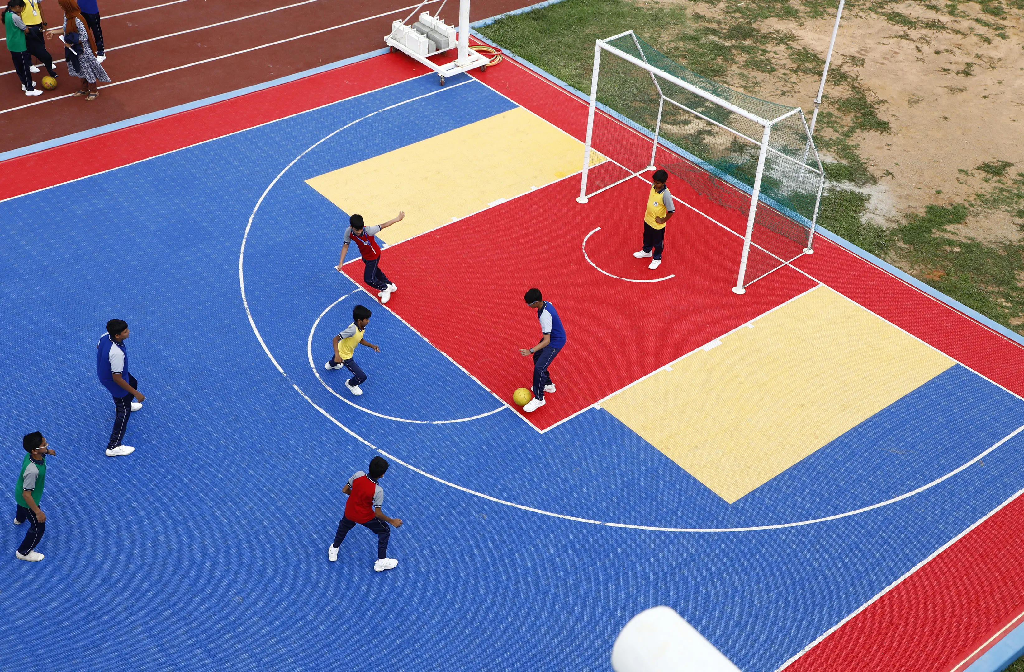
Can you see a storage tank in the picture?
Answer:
No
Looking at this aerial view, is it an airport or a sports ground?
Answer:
sports ground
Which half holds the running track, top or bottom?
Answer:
top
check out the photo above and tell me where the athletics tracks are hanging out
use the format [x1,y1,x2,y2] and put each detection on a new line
[0,0,534,150]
